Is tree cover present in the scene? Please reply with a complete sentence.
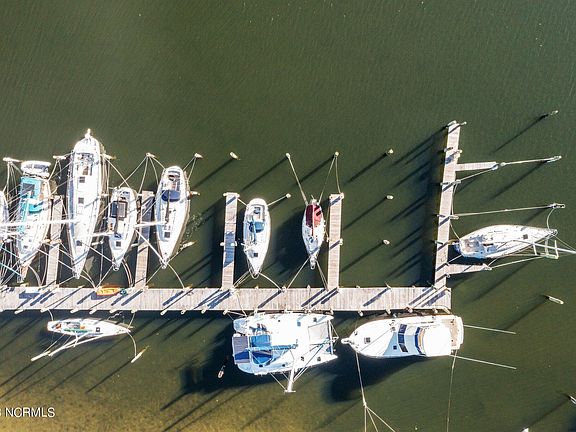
No, tree cover can't be seen anywhere here.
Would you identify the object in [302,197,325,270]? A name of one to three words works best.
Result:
boat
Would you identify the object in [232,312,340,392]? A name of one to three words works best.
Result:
boat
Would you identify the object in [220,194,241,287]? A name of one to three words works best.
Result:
pier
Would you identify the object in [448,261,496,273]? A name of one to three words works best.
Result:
pier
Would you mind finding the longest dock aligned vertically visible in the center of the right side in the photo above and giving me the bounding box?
[433,122,467,287]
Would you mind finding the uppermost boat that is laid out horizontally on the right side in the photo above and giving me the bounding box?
[454,225,576,259]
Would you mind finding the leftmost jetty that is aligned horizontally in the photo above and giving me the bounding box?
[0,284,454,314]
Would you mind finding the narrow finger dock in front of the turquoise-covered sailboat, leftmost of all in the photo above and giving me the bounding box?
[43,196,66,287]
